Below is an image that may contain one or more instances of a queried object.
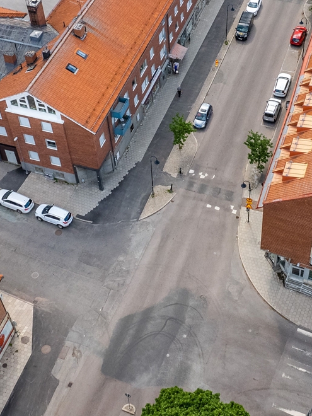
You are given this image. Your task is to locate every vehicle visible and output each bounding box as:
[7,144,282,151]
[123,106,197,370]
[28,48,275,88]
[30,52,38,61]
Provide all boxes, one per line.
[191,101,213,130]
[270,72,292,98]
[289,26,309,46]
[260,97,284,125]
[33,202,75,231]
[0,188,36,215]
[246,0,262,13]
[235,9,256,38]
